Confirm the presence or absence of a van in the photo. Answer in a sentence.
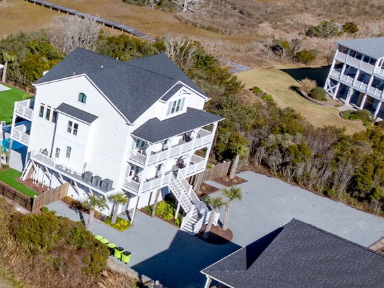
No, I can't see a single van in this photo.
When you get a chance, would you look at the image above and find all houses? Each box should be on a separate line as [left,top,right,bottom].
[324,38,384,117]
[1,49,227,235]
[193,220,384,288]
